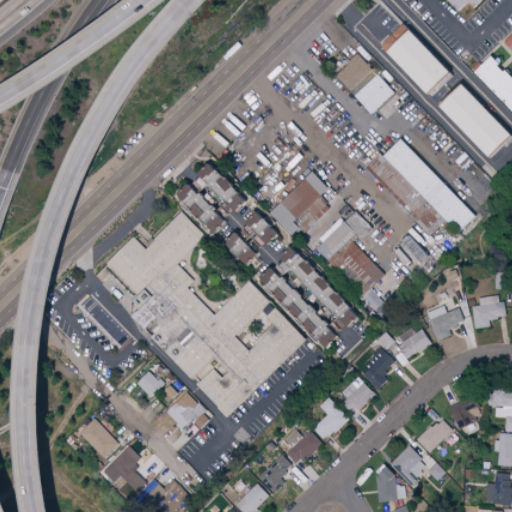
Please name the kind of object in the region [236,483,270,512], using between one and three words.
house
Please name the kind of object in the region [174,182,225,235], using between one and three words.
building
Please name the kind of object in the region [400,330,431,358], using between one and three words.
house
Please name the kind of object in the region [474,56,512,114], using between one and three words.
building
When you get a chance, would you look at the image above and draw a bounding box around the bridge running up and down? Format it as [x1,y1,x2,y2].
[0,162,20,232]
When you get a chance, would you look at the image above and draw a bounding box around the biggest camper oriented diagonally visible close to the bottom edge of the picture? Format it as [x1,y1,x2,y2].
[356,467,372,487]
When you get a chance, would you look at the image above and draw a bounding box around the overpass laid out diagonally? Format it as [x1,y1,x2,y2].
[0,0,166,112]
